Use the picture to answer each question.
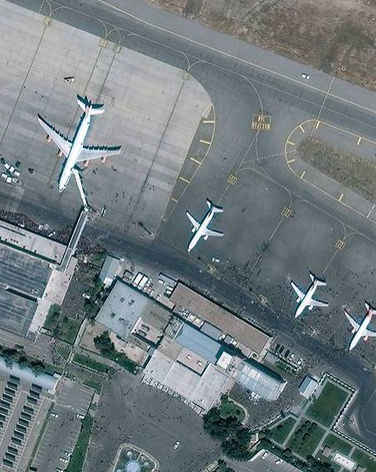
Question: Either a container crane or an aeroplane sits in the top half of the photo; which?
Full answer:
You can see an aeroplane in the top half of the photo.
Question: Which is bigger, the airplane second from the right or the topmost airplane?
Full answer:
The topmost airplane takes up more space than the airplane second from the right does.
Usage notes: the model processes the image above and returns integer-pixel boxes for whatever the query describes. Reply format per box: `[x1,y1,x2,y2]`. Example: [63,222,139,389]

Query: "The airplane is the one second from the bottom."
[292,274,328,318]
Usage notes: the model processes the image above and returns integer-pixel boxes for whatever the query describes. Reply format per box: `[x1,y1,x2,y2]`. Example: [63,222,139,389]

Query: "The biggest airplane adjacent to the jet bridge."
[41,99,121,192]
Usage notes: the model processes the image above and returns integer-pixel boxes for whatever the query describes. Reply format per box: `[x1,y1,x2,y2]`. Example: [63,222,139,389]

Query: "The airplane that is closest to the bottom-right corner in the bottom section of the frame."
[345,304,376,350]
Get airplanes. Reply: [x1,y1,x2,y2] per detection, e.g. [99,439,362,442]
[345,304,376,350]
[292,274,328,318]
[41,99,121,192]
[188,200,224,251]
